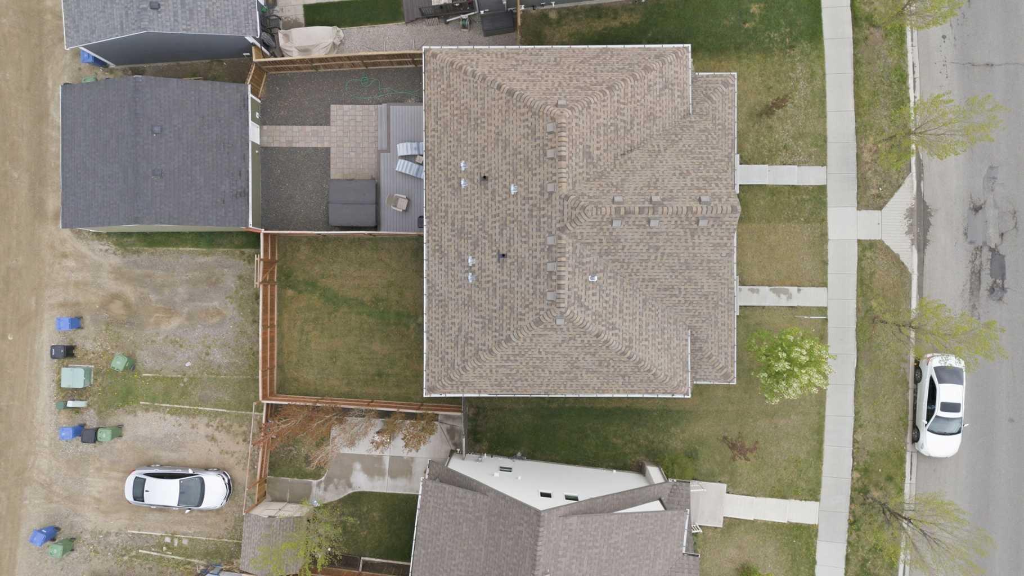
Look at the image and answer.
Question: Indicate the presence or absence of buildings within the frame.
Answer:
Yes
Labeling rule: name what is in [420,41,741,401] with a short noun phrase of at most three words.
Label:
house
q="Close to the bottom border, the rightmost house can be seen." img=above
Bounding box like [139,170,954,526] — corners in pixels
[407,452,705,576]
